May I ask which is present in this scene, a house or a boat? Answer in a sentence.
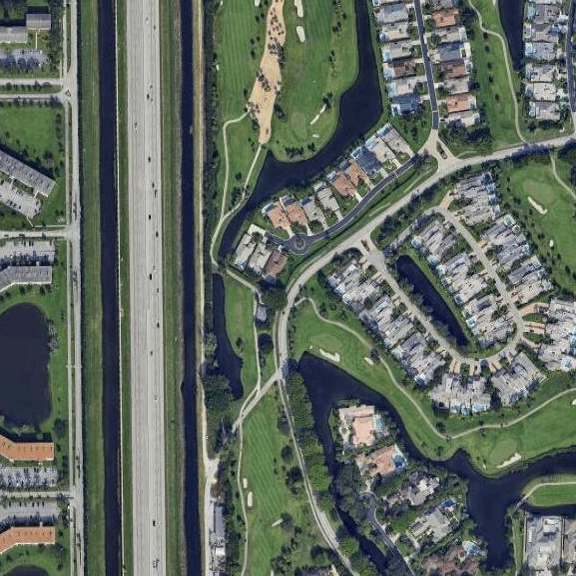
Visible in the photo is a house.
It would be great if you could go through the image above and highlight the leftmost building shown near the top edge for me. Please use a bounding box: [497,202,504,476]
[0,26,26,45]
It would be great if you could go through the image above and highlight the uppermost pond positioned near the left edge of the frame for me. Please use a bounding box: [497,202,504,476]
[0,301,53,430]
